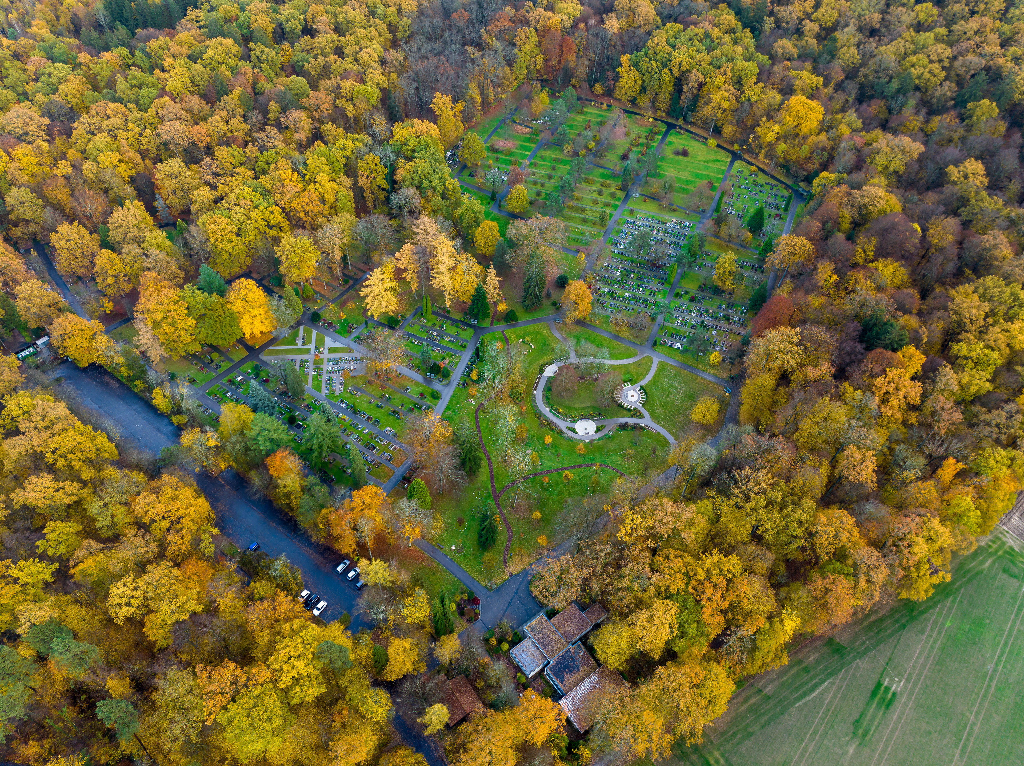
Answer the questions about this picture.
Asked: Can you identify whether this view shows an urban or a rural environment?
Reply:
rural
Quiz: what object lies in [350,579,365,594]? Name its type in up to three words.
car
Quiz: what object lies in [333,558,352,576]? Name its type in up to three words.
car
